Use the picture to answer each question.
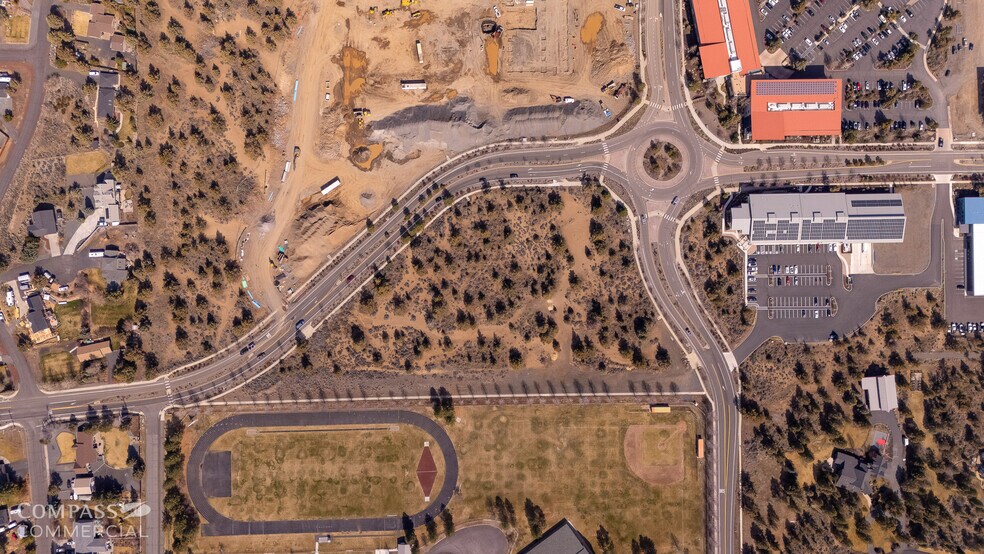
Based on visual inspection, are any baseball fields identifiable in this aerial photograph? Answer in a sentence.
Yes, looking at the shot, I can spot a baseball field.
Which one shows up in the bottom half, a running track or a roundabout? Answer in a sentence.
The one visible in the bottom half is a running track.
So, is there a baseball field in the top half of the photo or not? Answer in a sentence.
No, no baseball field is visible in the top half of the photo.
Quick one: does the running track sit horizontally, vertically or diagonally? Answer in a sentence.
From this overhead view, the running track appears to run horizontally.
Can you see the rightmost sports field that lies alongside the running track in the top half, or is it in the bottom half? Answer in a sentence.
Seen from above, the rightmost sports field that lies alongside the running track lies in the bottom half of the view.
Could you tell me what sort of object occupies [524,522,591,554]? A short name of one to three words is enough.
building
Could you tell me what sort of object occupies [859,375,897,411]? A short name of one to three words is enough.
barn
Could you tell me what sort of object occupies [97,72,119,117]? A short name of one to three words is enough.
house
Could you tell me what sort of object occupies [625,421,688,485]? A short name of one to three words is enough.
baseball field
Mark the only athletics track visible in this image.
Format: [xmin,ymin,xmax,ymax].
[186,410,458,536]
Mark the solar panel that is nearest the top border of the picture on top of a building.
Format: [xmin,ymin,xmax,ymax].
[757,82,834,94]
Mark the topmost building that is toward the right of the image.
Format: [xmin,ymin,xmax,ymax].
[688,0,762,83]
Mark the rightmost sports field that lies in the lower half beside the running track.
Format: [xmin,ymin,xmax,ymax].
[462,403,701,554]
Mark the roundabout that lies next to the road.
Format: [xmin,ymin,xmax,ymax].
[601,101,743,243]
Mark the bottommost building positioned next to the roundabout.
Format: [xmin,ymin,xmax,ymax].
[723,190,906,244]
